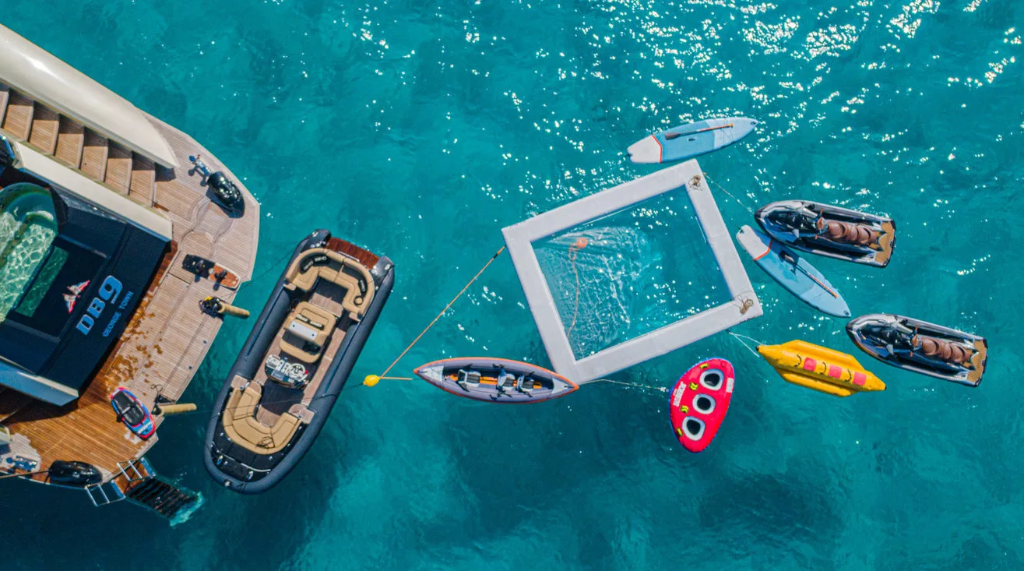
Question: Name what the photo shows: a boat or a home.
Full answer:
I can see a boat in this picture.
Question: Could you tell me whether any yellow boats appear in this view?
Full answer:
Yes, I can see a yellow boat in this picture.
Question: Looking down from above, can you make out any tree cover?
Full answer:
No, the scene doesn't show any tree cover.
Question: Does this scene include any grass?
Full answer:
No, there is no grass in the image.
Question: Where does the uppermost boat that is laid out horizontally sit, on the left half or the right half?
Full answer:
You can find the uppermost boat that is laid out horizontally on the right side of the picture.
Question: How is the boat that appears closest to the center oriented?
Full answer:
What the image shows is the boat that appears closest to the center lying horizontally.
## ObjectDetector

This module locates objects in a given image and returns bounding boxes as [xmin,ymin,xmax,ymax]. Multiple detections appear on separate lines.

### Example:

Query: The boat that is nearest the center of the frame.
[410,353,581,402]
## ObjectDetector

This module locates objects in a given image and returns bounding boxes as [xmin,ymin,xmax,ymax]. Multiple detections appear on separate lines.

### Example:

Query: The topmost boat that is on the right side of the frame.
[751,202,900,272]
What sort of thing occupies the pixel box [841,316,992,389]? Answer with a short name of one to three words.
boat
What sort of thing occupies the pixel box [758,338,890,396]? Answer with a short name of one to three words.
boat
